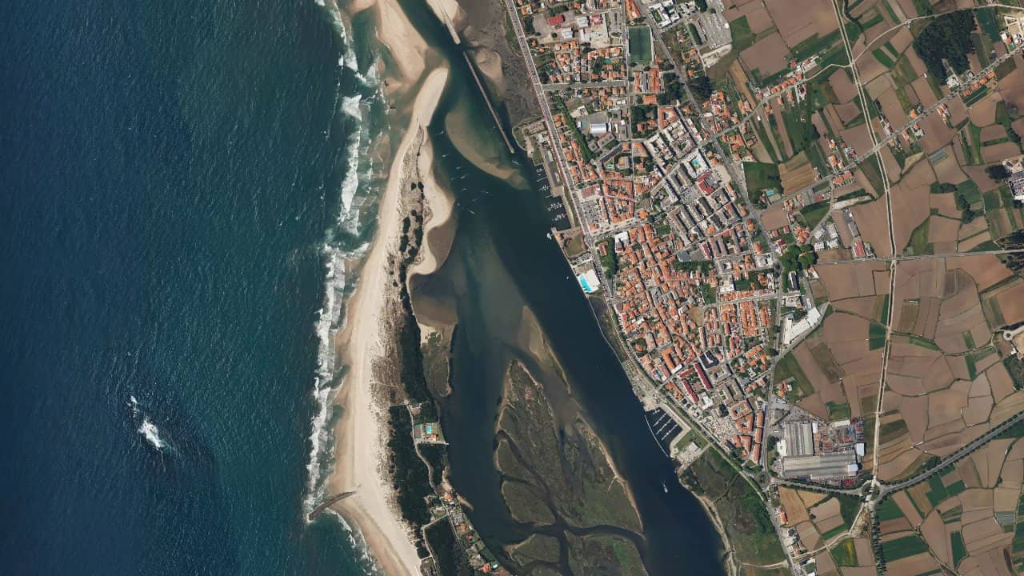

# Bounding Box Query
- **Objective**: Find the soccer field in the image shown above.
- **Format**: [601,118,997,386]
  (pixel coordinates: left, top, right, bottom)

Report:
[628,26,652,62]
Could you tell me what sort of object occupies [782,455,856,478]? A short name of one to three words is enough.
building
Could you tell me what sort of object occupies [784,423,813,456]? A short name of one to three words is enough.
building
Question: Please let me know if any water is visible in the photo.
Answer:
Yes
